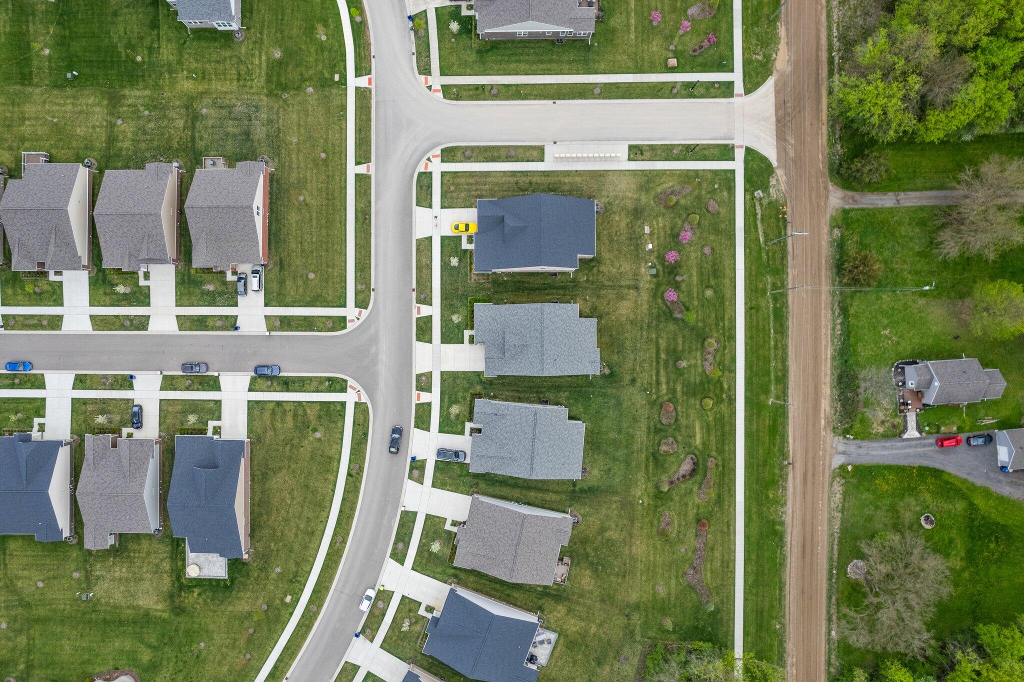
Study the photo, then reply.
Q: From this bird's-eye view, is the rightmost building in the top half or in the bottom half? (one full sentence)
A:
The rightmost building sits in the bottom half of the picture.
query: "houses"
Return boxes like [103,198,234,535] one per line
[473,300,601,379]
[76,432,162,551]
[165,433,251,560]
[473,194,596,277]
[93,162,185,272]
[185,160,274,272]
[473,0,597,45]
[0,430,74,543]
[1,163,95,272]
[422,582,541,682]
[451,492,574,588]
[165,0,246,34]
[899,354,1007,417]
[469,397,585,482]
[395,661,445,682]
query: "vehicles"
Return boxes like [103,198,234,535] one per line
[389,426,402,454]
[181,362,208,374]
[254,365,281,377]
[5,361,34,371]
[935,435,962,447]
[965,434,993,446]
[359,587,377,613]
[131,404,144,429]
[436,449,466,462]
[250,265,263,292]
[236,273,248,297]
[451,223,474,233]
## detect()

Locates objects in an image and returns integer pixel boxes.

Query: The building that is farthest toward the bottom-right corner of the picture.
[996,426,1024,467]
